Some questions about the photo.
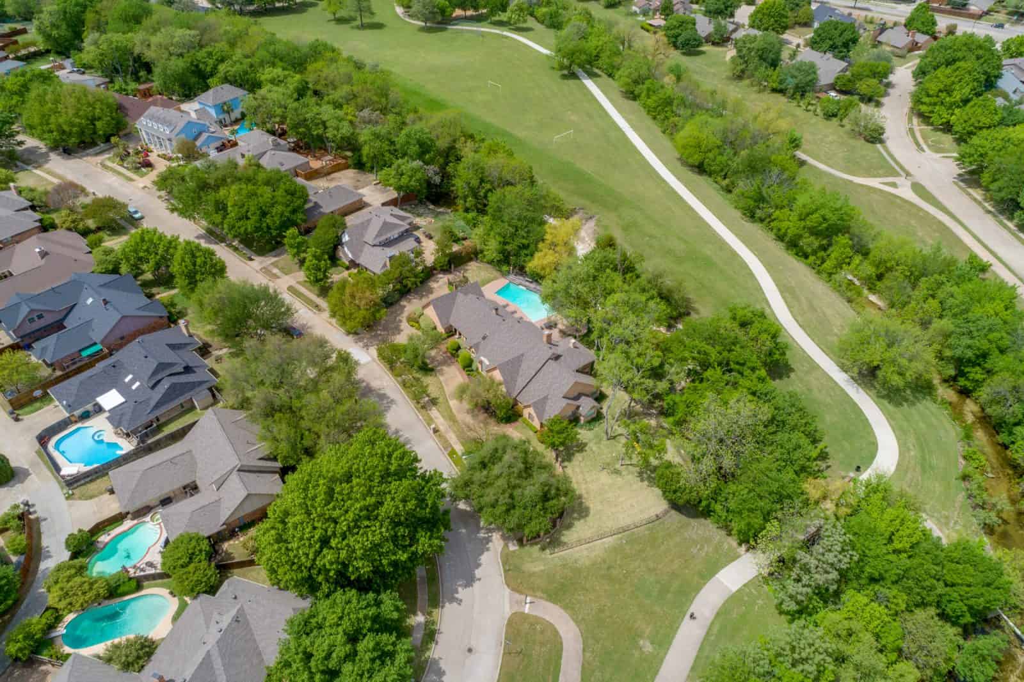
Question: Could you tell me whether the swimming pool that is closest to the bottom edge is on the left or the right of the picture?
left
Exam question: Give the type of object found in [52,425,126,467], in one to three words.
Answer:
swimming pool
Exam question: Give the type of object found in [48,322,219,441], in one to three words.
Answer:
house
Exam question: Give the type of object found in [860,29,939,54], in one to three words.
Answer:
house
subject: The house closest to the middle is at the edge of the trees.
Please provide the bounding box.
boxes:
[430,281,600,430]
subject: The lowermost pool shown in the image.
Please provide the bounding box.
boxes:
[42,591,173,652]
